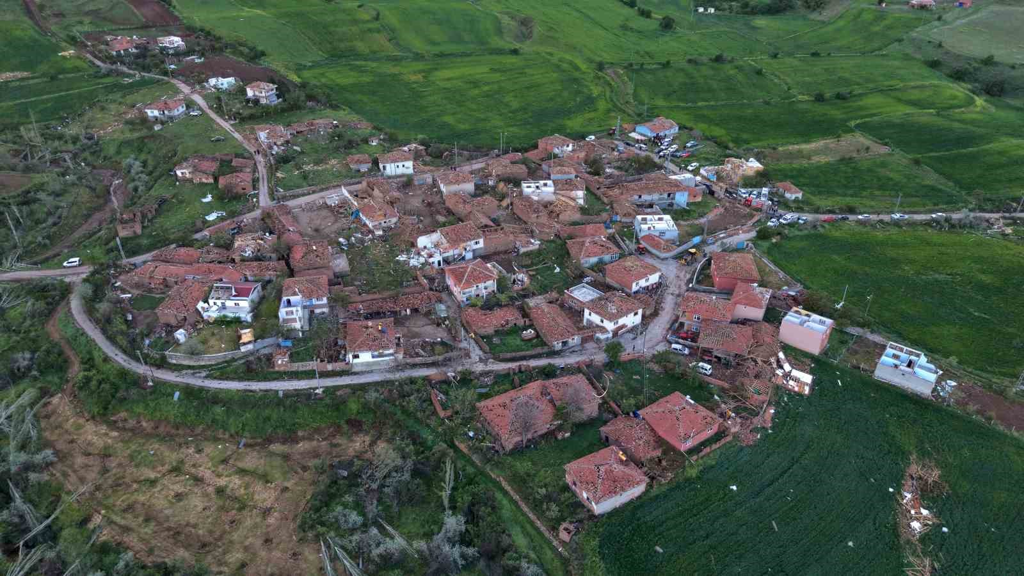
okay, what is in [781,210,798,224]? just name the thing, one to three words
vehicle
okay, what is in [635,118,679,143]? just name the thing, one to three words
building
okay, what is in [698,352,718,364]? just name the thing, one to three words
vehicle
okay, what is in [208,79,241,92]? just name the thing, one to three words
house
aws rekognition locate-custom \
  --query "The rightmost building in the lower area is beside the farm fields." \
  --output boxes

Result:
[876,343,943,395]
